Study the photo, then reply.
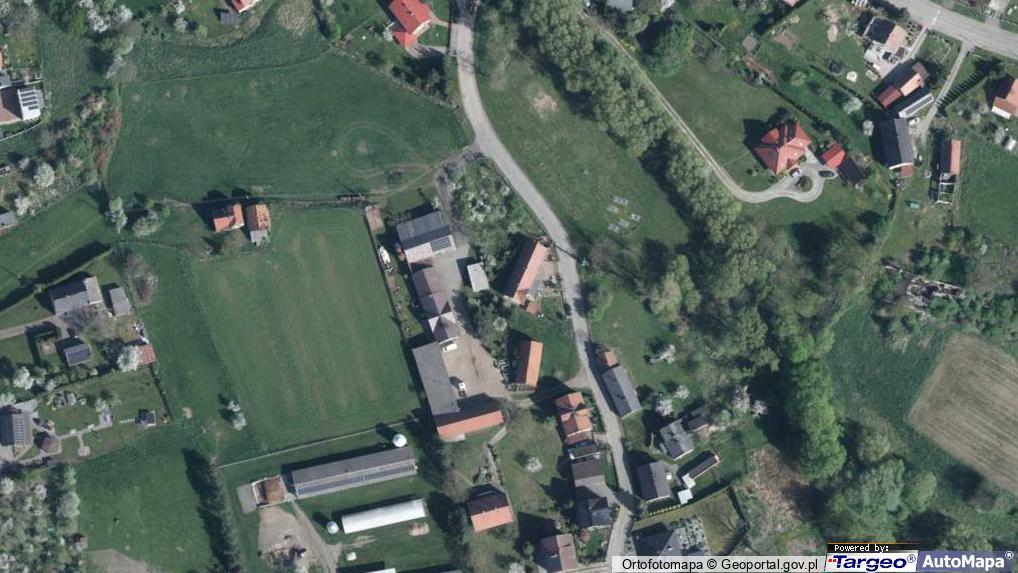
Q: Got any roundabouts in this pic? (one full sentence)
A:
Yes, you can see a roundabout in this photo.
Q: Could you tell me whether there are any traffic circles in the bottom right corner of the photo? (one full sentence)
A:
No, in the bottom right corner of the photo there is no traffic circle.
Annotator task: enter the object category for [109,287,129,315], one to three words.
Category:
shed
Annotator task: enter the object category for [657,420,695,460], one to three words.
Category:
house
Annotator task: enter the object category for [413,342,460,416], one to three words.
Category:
barn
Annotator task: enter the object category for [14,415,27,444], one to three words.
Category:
solar panel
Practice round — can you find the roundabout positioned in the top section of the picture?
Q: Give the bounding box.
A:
[738,150,838,203]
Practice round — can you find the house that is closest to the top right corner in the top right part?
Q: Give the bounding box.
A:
[989,74,1018,118]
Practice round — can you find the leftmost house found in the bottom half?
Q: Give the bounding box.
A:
[0,412,32,447]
